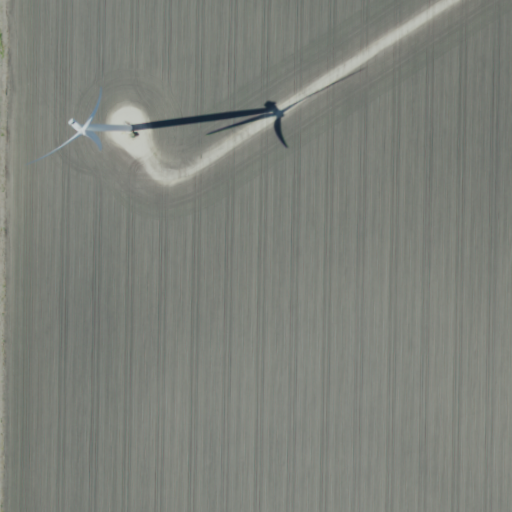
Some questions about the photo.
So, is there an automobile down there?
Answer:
No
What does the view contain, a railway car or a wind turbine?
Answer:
wind turbine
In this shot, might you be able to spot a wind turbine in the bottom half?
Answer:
No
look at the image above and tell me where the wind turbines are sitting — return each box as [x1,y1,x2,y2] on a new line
[28,88,136,164]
